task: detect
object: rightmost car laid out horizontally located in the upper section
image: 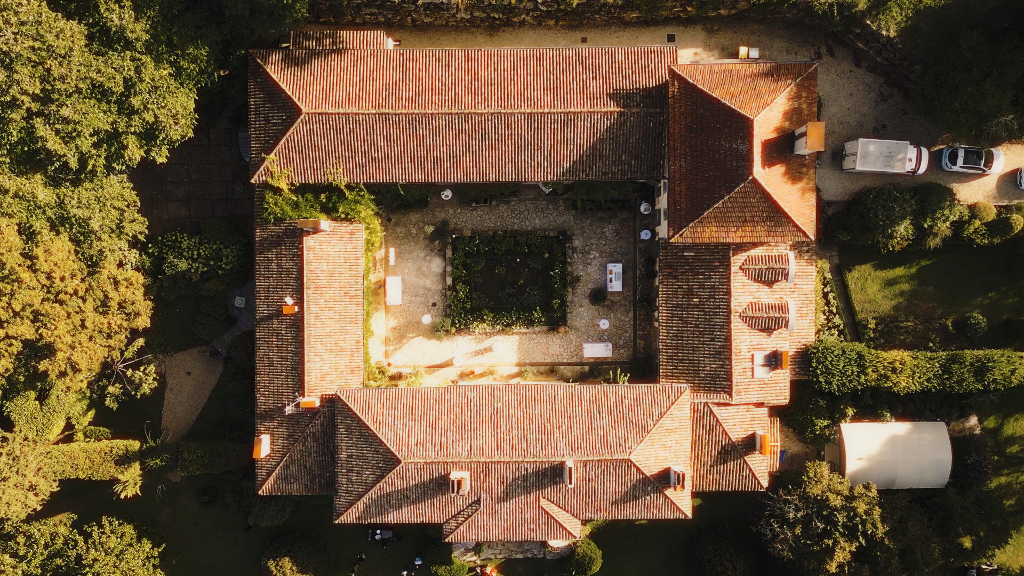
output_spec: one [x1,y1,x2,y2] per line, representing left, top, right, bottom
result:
[936,144,1003,176]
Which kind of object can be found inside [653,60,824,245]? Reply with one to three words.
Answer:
house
